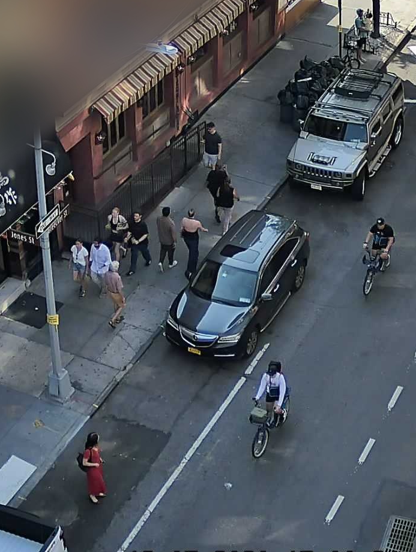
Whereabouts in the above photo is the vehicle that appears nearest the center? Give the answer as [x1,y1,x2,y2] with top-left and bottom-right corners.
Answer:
[160,199,315,362]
